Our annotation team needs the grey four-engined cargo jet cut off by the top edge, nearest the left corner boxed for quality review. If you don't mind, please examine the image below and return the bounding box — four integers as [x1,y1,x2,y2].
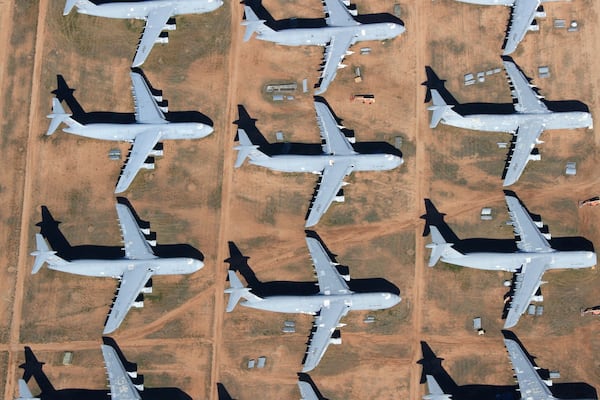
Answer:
[63,0,223,67]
